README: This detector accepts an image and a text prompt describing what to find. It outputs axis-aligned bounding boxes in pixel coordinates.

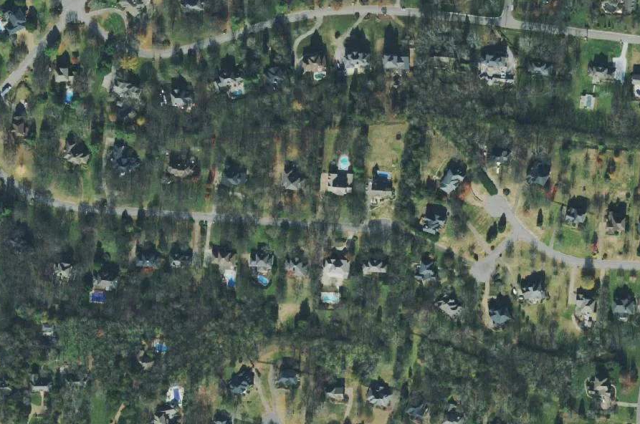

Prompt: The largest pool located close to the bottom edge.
[168,385,183,405]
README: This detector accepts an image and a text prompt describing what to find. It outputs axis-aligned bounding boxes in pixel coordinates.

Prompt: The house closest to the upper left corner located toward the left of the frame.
[0,8,27,30]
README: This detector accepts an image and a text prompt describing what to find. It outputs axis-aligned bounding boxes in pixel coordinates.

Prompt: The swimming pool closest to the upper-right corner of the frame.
[599,1,619,15]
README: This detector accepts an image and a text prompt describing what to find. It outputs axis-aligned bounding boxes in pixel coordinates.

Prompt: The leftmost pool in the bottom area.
[90,289,106,303]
